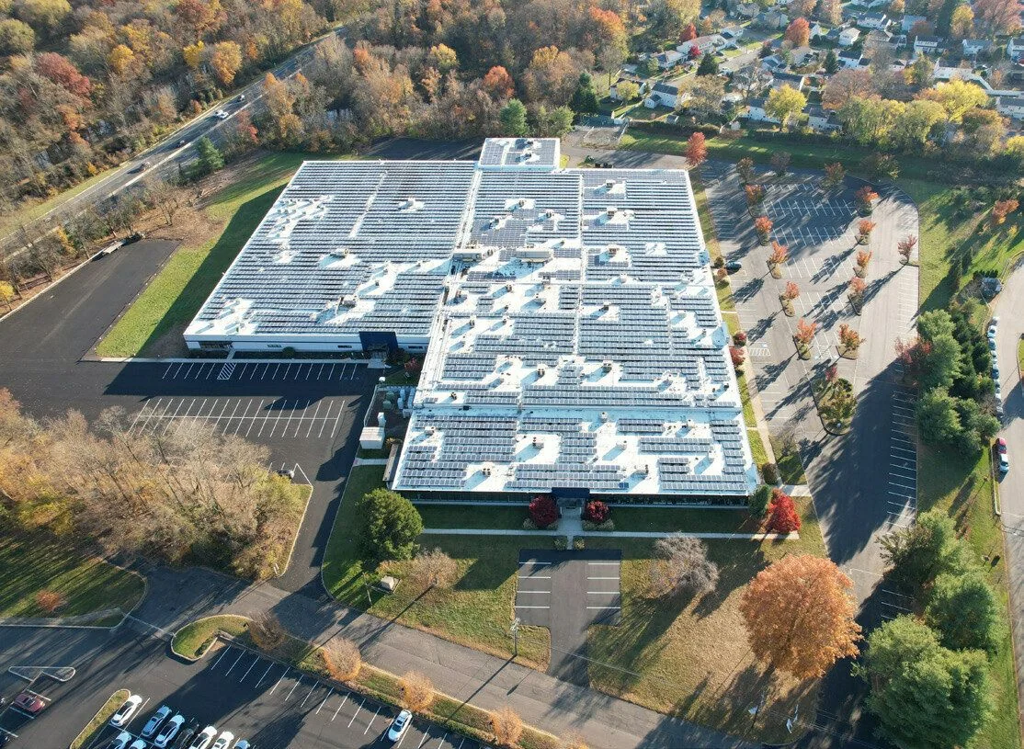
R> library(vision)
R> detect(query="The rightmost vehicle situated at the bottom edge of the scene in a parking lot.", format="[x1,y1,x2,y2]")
[385,709,412,741]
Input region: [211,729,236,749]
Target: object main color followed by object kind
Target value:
white car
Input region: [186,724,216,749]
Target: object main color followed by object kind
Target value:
white car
